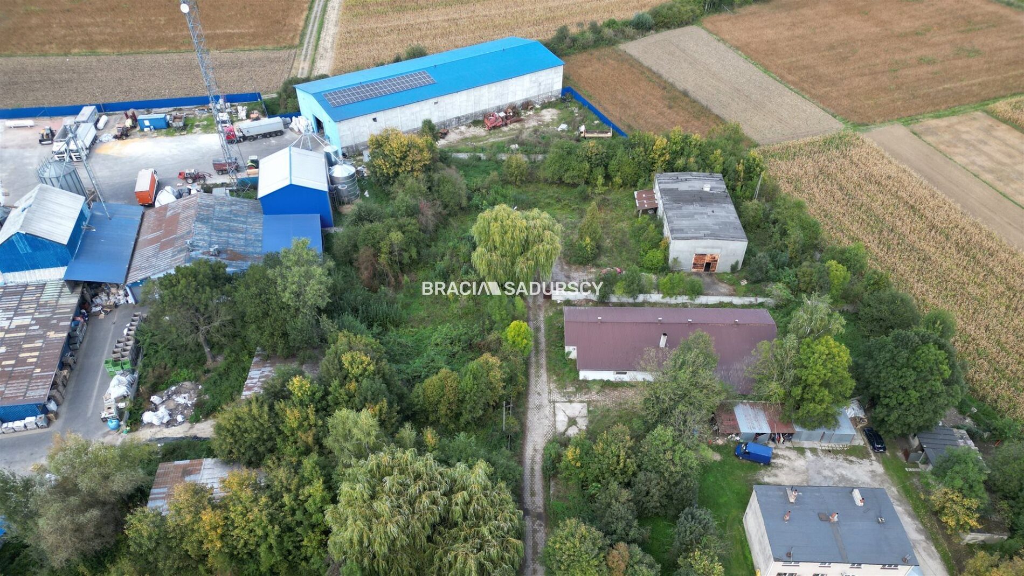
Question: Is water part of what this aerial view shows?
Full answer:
No, there is no water in the image.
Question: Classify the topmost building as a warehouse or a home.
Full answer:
It turns out the topmost building is a warehouse.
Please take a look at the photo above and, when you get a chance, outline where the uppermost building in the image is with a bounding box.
[288,40,567,154]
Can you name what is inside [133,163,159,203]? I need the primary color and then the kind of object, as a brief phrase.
white truck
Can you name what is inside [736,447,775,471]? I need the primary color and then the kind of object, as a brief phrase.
blue vehicle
